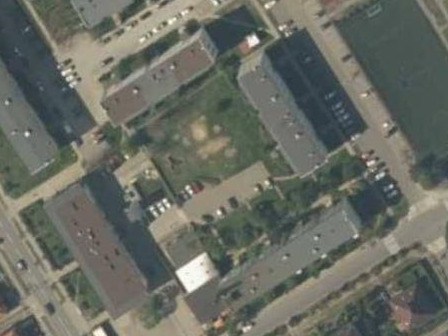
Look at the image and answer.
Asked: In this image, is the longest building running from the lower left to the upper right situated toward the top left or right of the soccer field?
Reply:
on the left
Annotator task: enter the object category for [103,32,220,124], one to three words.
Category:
building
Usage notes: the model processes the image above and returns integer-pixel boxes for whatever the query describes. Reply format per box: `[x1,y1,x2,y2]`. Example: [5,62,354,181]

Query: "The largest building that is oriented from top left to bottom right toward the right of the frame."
[237,53,327,175]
